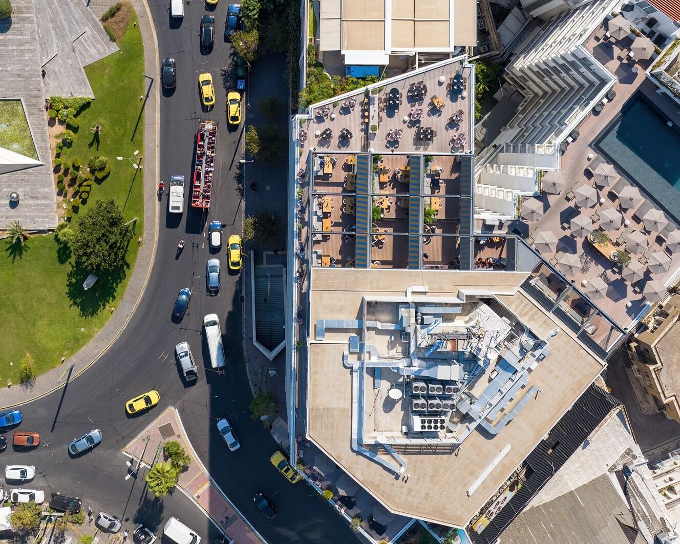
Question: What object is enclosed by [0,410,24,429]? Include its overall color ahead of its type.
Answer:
blue car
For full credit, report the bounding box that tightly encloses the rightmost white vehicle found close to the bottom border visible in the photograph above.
[160,507,205,544]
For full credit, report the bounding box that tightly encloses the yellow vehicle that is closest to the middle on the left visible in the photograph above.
[226,235,248,269]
